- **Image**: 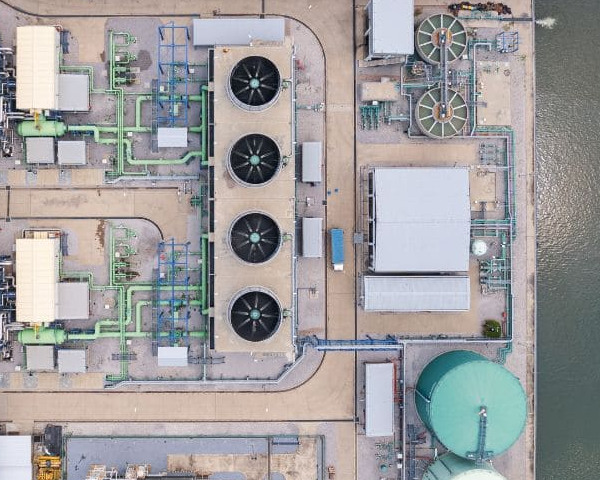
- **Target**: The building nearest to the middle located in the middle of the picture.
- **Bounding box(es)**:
[301,218,322,258]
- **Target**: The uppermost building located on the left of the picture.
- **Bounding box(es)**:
[192,18,285,49]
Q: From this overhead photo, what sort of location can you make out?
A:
industrial area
